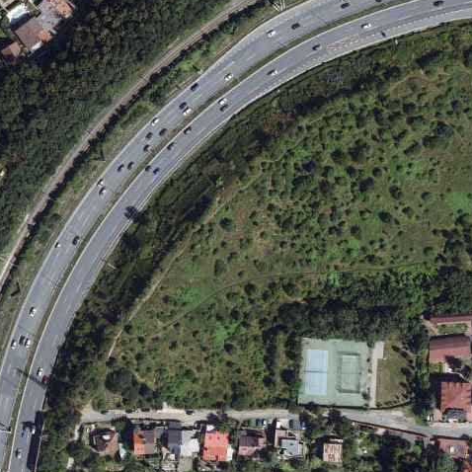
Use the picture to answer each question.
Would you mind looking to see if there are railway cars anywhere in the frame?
No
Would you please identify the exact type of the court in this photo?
tennis court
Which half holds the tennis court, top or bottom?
bottom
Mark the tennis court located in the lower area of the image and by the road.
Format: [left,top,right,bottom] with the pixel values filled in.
[298,337,369,408]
